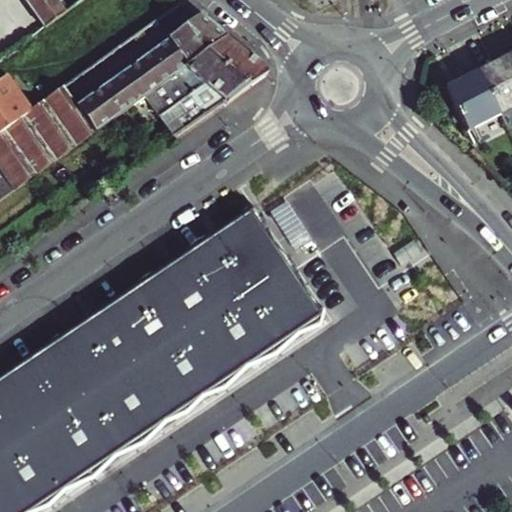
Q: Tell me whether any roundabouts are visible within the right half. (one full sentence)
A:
Yes, a roundabout appears within the right half.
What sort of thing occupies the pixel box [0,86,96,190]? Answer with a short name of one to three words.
building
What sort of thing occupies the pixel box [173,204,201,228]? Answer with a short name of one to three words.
vehicle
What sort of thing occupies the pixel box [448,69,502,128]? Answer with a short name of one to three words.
house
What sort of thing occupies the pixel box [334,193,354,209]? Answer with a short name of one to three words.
car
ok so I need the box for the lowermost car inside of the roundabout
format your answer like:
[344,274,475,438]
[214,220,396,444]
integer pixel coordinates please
[311,96,326,116]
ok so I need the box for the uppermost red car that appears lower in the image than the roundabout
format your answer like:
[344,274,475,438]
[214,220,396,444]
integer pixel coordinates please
[340,205,358,220]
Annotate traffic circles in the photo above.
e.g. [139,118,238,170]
[280,25,400,145]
